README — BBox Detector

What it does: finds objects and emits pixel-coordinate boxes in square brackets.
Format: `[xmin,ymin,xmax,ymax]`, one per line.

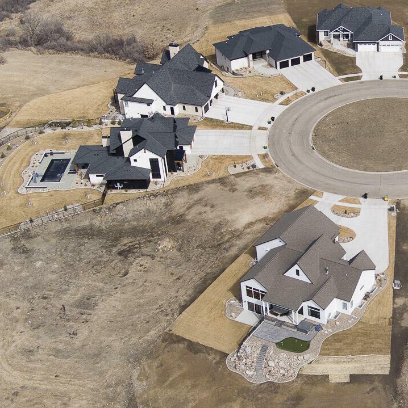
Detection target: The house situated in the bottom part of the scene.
[239,202,385,336]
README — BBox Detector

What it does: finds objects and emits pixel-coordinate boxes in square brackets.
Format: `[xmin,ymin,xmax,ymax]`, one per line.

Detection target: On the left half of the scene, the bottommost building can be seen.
[68,109,199,192]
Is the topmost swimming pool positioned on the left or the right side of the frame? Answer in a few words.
left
